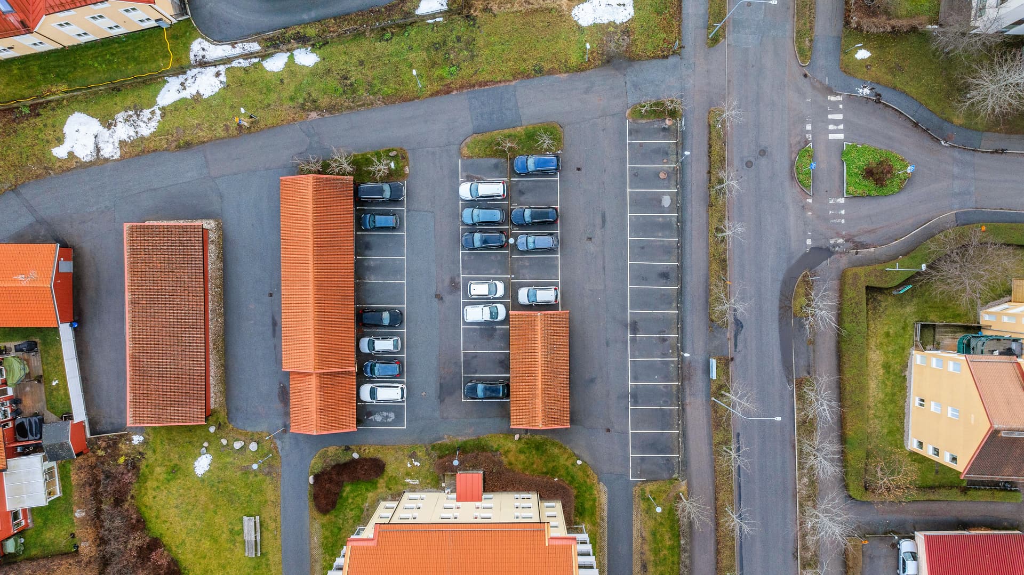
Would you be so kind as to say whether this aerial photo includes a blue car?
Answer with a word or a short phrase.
Yes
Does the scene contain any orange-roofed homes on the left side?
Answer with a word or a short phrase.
Yes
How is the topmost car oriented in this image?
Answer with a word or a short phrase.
horizontally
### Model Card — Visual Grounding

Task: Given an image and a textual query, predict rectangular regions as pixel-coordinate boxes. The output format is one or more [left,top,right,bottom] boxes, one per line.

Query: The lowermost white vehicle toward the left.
[359,383,407,405]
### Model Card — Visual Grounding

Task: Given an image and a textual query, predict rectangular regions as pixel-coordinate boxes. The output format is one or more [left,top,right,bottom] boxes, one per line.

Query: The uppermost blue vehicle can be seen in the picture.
[514,152,561,175]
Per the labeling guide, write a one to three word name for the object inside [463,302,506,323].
vehicle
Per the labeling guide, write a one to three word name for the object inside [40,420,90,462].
shed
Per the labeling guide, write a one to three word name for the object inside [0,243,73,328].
house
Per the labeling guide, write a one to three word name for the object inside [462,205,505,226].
car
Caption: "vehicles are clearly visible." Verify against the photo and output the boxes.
[468,279,504,299]
[511,204,559,226]
[363,359,402,378]
[359,383,407,405]
[516,232,559,253]
[357,181,405,203]
[359,335,401,355]
[358,308,403,329]
[464,380,511,401]
[518,285,559,306]
[463,302,506,323]
[361,212,400,230]
[460,179,506,201]
[462,205,505,226]
[514,152,561,175]
[896,545,922,575]
[462,229,507,251]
